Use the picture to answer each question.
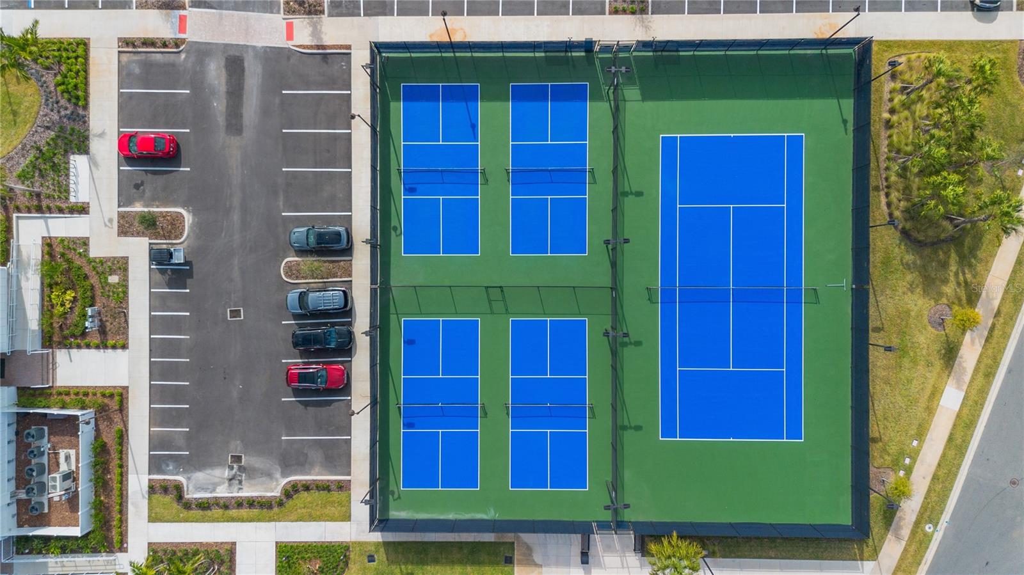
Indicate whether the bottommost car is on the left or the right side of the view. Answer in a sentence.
The bottommost car sits on the left side.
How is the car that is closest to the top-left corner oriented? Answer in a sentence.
The car that is closest to the top-left corner is oriented from side to side.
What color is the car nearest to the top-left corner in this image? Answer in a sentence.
In this view, the car nearest to the top-left corner is red.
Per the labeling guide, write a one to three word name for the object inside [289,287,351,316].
car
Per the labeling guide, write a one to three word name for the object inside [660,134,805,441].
tennis court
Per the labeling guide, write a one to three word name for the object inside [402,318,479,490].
sports court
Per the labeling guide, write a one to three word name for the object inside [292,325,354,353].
car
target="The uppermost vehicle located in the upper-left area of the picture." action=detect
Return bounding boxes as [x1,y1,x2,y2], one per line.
[121,129,179,159]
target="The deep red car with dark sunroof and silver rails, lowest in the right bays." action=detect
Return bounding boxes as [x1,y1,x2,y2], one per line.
[288,364,348,392]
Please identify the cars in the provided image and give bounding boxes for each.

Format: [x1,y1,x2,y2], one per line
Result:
[288,364,348,392]
[291,224,352,253]
[289,287,351,316]
[121,129,179,159]
[292,325,354,353]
